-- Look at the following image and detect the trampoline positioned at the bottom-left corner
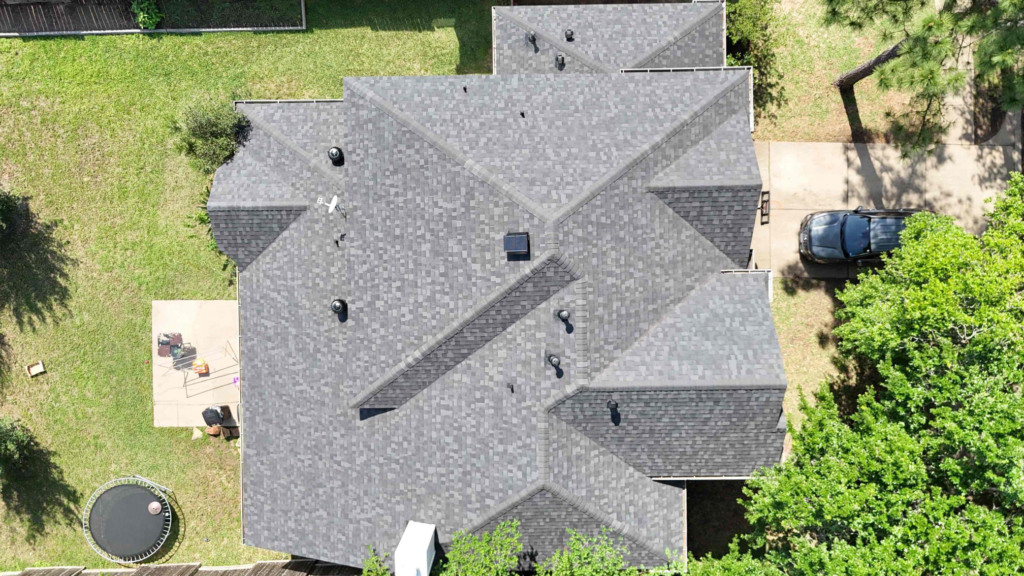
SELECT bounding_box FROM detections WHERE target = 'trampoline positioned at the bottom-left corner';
[83,475,176,564]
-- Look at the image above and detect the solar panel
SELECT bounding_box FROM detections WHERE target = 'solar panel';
[503,234,528,253]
